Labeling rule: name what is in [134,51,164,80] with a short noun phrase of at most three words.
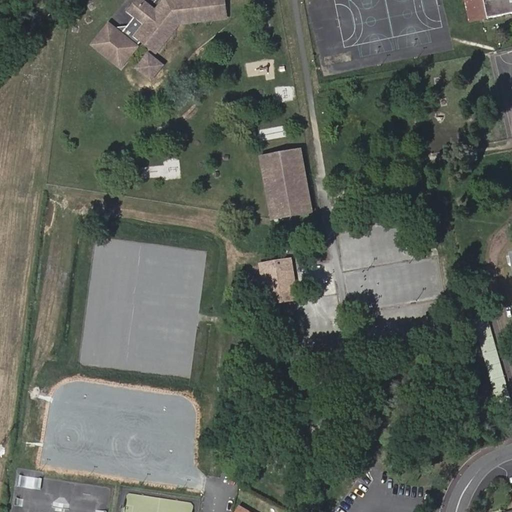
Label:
building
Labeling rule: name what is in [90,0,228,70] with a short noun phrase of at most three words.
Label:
building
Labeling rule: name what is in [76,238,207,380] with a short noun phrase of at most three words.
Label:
sports court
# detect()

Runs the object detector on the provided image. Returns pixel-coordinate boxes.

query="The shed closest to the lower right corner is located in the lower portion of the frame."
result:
[480,324,508,396]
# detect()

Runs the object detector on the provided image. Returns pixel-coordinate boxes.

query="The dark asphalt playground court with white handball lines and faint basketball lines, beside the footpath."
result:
[308,0,454,76]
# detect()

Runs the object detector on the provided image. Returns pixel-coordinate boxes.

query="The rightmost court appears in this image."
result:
[486,50,512,141]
